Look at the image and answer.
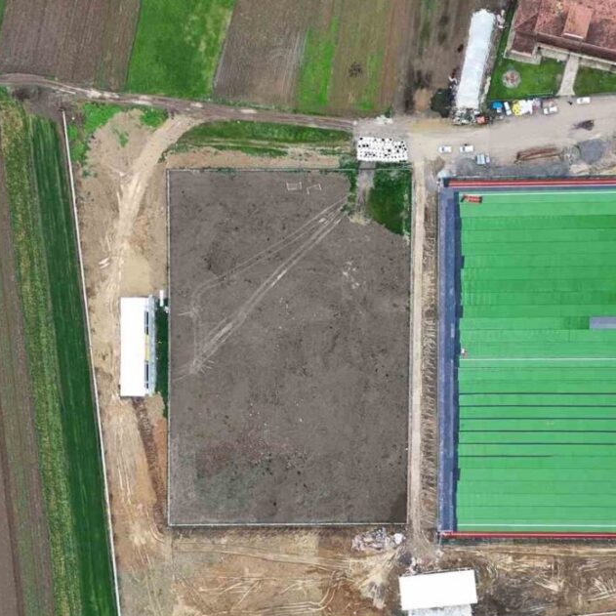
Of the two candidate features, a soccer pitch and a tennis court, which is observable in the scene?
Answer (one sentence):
I can see a soccer pitch in this picture.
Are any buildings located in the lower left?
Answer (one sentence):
No, no building is visible in the lower left.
